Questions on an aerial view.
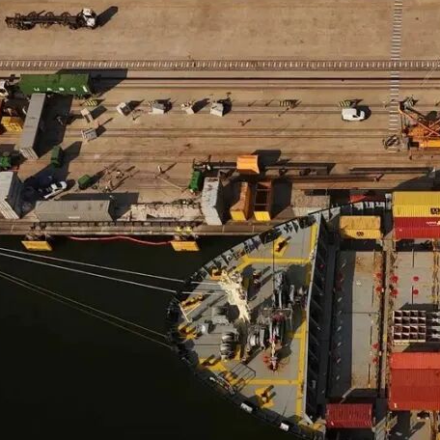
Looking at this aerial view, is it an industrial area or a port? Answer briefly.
port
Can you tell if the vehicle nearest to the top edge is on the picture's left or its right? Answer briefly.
left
